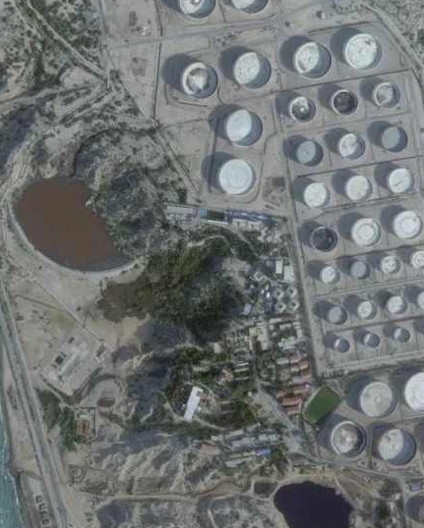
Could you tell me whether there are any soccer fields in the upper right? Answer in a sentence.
No, no soccer field can be made out in the upper right.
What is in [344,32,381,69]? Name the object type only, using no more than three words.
storage tank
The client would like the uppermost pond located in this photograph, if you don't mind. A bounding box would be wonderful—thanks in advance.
[17,176,133,272]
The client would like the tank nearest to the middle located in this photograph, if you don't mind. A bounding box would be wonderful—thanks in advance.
[219,158,255,195]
